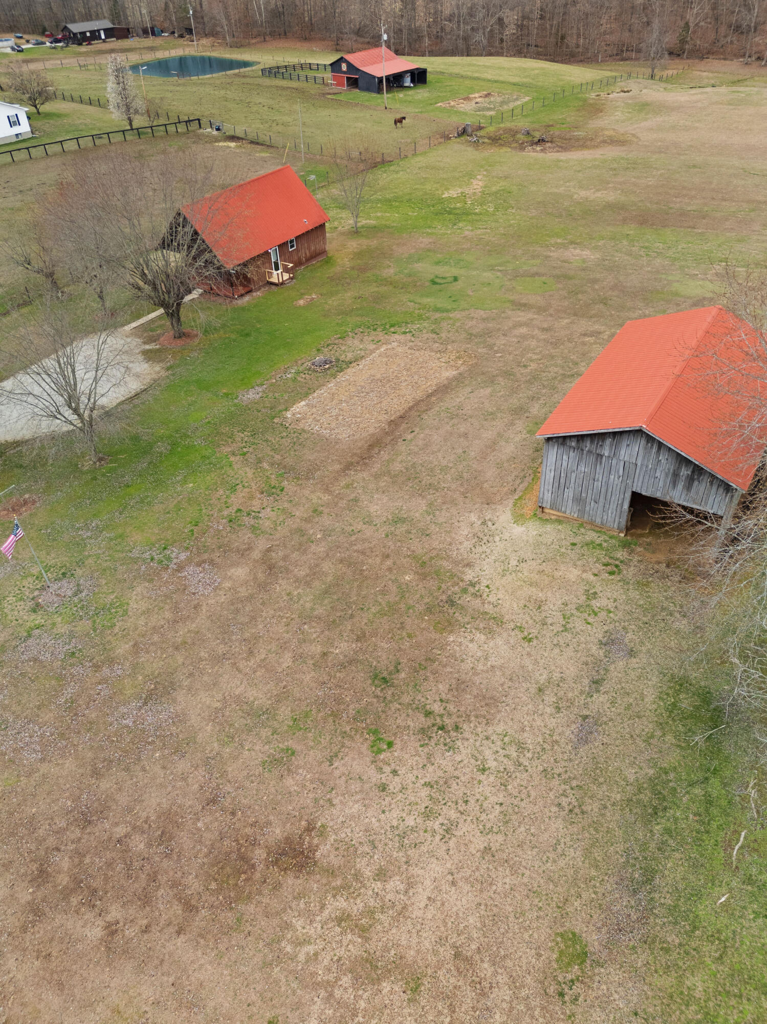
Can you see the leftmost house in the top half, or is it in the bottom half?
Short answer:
top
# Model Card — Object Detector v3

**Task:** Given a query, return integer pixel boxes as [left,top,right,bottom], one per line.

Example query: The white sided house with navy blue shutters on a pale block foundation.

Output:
[0,98,40,144]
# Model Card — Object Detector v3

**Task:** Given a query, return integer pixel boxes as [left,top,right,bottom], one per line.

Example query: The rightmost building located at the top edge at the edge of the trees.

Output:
[330,50,427,93]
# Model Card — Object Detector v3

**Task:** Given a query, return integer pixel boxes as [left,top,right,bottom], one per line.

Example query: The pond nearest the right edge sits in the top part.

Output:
[132,55,256,77]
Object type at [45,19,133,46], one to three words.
building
